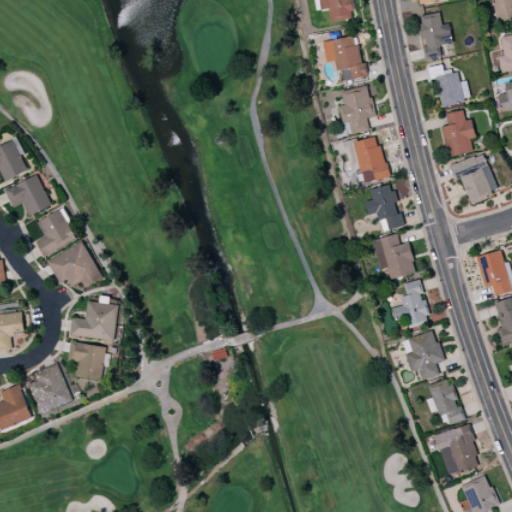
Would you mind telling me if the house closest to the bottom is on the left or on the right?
right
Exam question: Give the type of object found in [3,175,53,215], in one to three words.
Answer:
house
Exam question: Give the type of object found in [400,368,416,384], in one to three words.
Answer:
swimming pool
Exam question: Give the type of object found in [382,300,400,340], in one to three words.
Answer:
swimming pool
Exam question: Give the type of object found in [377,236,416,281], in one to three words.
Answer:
house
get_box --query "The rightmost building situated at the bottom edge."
[462,474,504,512]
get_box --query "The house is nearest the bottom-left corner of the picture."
[0,385,37,434]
